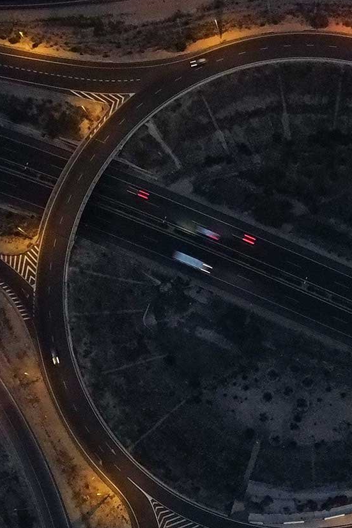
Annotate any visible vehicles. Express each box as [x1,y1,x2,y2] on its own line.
[131,188,145,196]
[199,226,221,239]
[192,60,205,66]
[50,348,57,363]
[237,232,251,242]
[174,250,211,272]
